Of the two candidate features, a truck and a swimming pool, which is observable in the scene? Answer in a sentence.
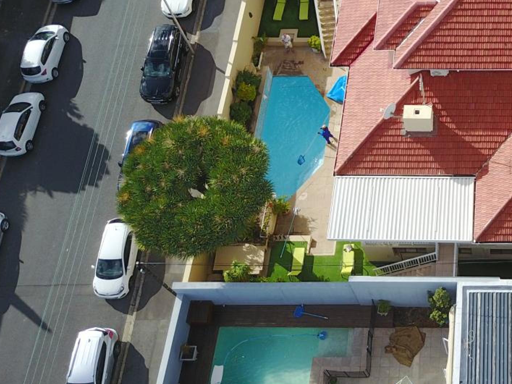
Visible in the photo is a swimming pool.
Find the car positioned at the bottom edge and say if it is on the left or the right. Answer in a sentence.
You can find the car positioned at the bottom edge on the left side of the picture.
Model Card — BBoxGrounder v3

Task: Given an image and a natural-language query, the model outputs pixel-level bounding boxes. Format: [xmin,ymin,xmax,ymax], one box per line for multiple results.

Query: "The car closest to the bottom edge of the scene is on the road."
[60,328,117,384]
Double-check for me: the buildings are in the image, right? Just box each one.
[453,280,512,384]
[328,0,512,270]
